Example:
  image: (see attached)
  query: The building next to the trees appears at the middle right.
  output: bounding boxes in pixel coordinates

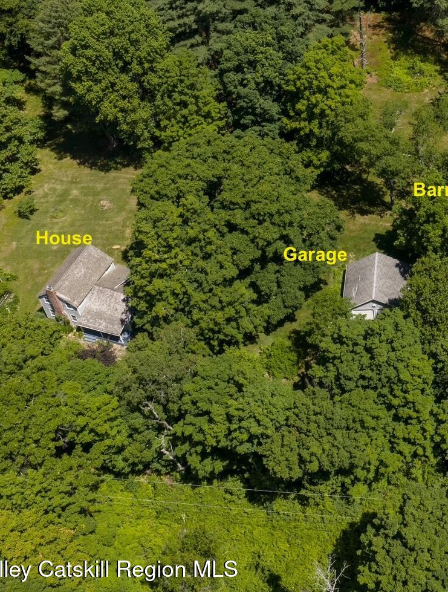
[340,252,409,323]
